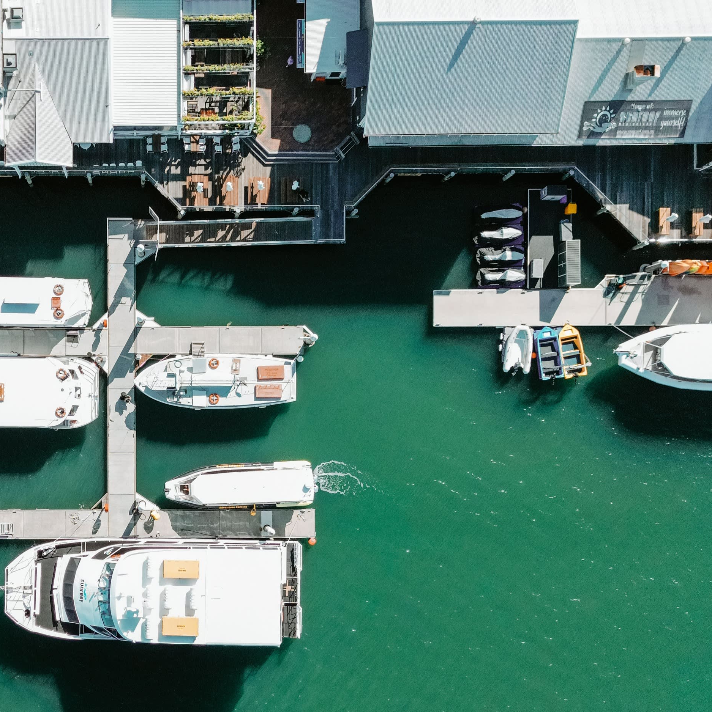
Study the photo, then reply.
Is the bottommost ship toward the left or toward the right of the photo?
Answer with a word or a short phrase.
left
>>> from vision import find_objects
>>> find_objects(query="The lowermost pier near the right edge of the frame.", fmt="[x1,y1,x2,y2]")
[432,275,712,327]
